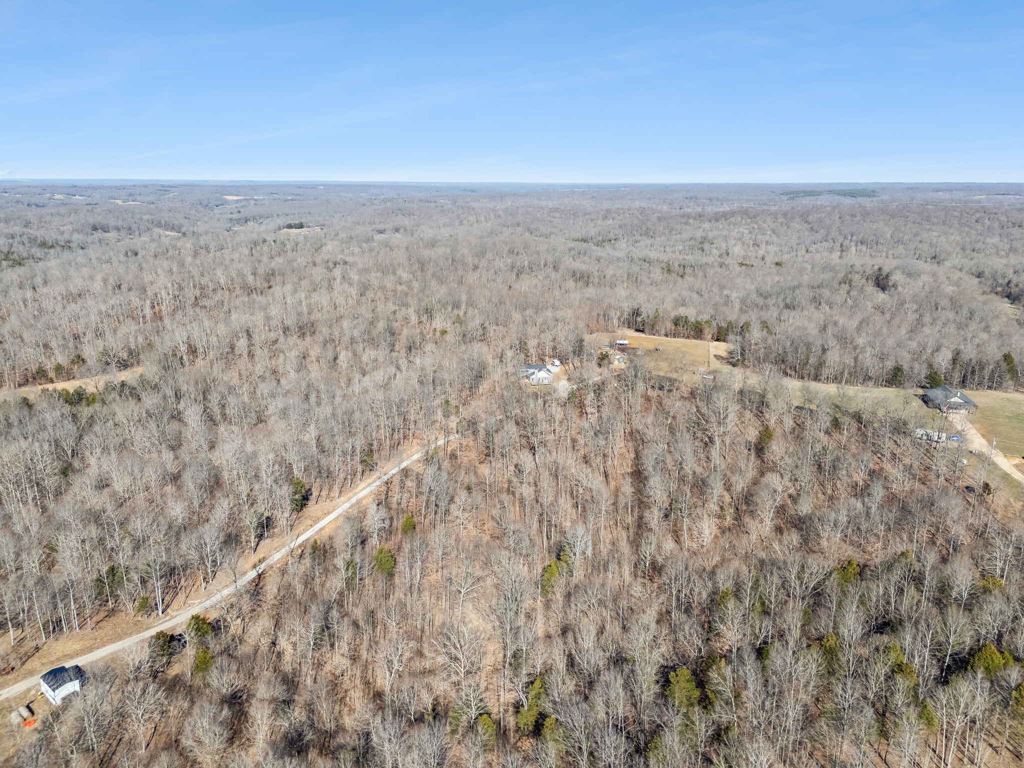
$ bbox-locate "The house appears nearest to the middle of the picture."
[513,362,554,386]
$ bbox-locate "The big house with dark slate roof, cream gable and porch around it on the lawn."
[922,386,980,416]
